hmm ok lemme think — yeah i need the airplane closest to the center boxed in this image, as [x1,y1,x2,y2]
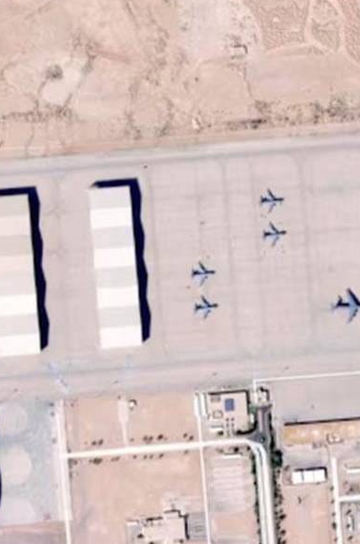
[189,263,213,286]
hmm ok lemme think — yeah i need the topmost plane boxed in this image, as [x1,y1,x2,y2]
[258,190,282,213]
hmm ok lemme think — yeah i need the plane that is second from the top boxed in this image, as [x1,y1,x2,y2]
[261,224,285,247]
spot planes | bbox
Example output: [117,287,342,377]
[192,297,216,320]
[189,263,213,286]
[261,224,285,247]
[258,190,282,213]
[332,291,360,323]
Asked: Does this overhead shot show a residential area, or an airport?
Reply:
airport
